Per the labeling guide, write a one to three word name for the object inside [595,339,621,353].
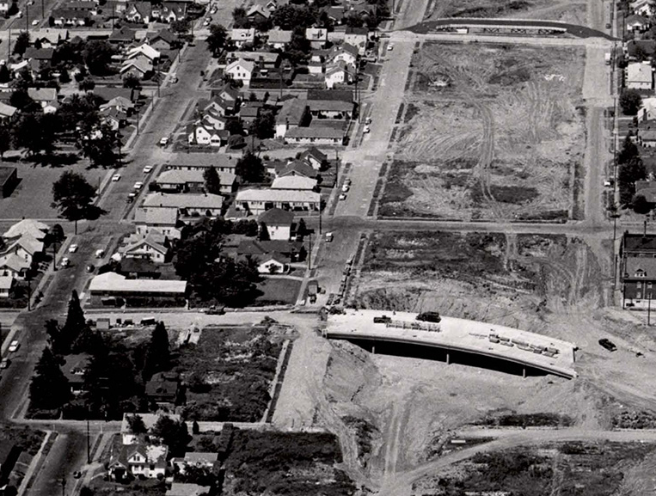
vehicle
